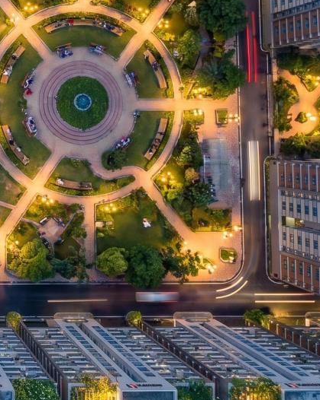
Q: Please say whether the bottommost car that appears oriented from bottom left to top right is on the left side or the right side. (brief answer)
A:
right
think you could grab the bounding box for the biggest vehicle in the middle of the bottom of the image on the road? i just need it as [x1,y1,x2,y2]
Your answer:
[139,290,174,304]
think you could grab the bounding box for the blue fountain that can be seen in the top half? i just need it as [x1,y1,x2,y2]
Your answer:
[73,93,92,111]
